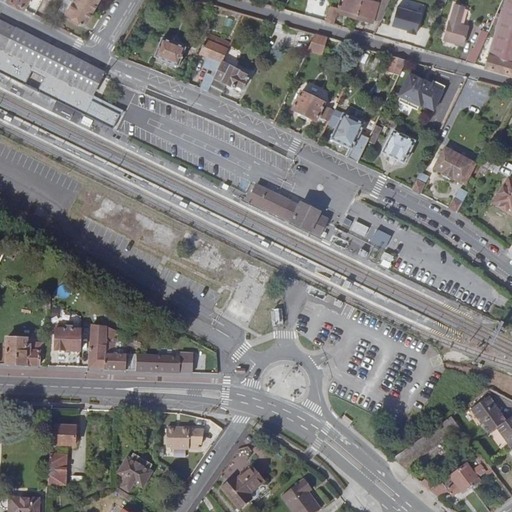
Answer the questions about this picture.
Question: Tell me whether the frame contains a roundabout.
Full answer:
Yes, you can see a roundabout in this photo.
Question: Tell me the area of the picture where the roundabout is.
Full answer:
The roundabout is in the bottom part of the image.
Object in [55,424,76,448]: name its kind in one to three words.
house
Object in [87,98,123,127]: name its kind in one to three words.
shed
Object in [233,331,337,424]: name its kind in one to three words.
roundabout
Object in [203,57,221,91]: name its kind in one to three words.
building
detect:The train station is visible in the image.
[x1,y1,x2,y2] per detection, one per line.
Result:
[0,76,474,345]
